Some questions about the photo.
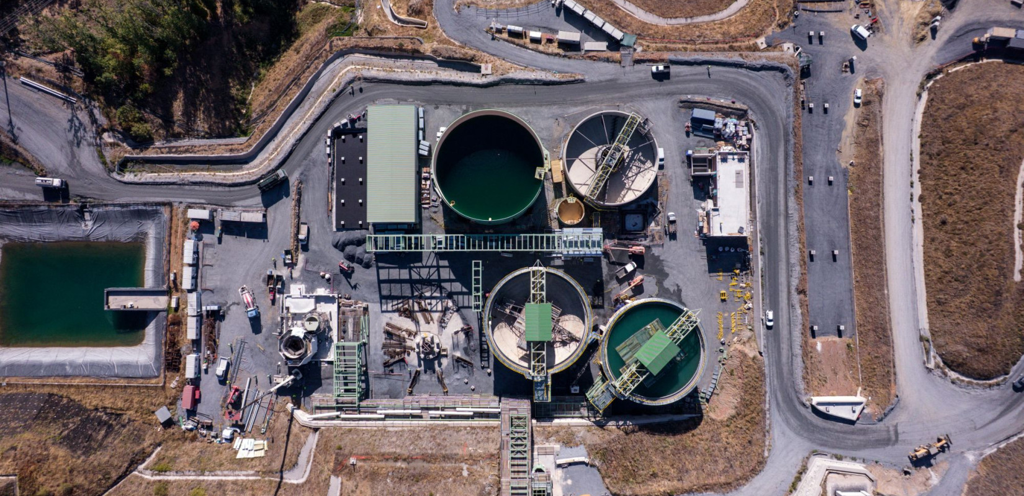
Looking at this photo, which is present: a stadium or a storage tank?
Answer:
storage tank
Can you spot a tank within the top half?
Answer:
Yes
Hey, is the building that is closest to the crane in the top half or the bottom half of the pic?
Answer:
bottom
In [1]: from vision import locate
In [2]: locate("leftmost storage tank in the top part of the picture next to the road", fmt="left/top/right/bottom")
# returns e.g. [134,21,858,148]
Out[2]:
[428,109,550,224]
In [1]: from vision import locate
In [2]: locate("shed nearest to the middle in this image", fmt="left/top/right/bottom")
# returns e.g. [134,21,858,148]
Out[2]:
[367,103,421,223]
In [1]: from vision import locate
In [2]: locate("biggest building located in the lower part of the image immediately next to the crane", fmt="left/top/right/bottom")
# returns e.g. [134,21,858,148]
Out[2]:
[277,284,341,367]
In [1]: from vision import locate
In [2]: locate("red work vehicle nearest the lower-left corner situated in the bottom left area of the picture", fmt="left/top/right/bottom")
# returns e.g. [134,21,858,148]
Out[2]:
[223,386,241,406]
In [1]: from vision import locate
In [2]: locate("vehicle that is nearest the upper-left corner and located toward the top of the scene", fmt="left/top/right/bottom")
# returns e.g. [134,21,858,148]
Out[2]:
[33,176,68,190]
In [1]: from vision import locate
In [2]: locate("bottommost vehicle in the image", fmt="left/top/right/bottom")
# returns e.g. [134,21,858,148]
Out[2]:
[904,436,947,462]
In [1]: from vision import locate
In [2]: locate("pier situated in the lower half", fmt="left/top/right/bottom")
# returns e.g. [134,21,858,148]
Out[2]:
[104,287,169,311]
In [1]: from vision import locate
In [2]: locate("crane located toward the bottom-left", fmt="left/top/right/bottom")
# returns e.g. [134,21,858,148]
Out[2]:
[231,367,305,415]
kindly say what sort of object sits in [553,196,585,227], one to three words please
storage tank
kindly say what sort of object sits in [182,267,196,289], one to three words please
building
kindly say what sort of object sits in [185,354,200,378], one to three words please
building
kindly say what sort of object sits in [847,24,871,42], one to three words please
vehicle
